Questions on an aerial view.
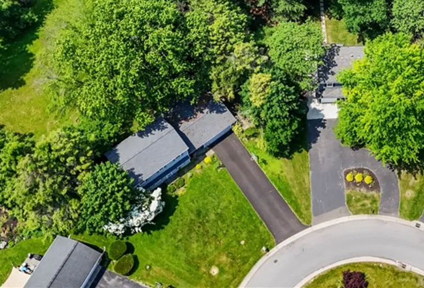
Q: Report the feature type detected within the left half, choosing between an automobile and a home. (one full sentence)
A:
There is a home within the left half.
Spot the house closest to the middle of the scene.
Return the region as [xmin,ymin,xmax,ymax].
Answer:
[107,101,239,200]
